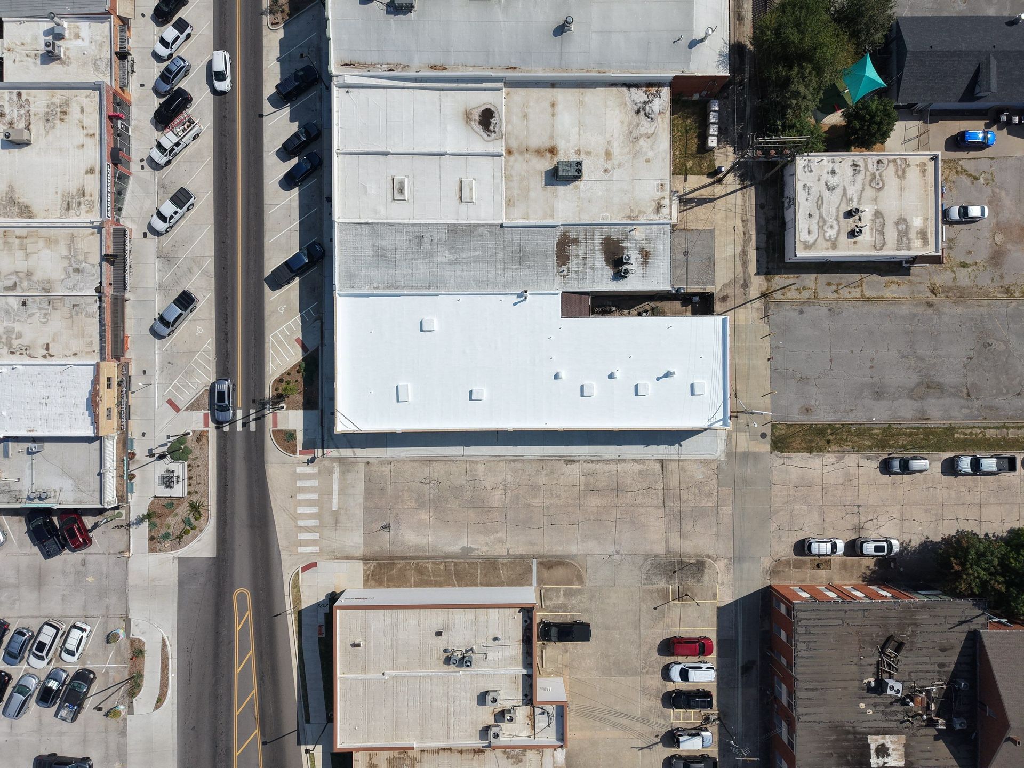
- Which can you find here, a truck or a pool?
truck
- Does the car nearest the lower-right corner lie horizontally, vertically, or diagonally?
horizontally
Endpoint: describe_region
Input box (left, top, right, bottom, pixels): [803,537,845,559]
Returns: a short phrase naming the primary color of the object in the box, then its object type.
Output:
white car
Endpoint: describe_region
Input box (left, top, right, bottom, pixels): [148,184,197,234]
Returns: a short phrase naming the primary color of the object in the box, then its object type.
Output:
white truck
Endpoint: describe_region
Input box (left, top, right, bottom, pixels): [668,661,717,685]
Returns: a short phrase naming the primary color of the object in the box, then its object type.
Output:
white car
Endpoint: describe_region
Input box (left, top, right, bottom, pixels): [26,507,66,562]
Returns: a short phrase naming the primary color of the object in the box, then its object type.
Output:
black truck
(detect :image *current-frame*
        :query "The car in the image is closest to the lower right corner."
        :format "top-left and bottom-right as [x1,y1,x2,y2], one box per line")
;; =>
[854,538,900,560]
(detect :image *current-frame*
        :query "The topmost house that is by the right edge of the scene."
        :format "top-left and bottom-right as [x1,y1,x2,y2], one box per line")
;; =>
[889,12,1024,113]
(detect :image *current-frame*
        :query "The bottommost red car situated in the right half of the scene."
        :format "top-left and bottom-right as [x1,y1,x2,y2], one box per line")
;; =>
[669,636,714,660]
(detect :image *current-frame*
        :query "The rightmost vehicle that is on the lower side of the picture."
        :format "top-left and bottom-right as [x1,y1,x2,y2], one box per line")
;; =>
[955,454,1019,476]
